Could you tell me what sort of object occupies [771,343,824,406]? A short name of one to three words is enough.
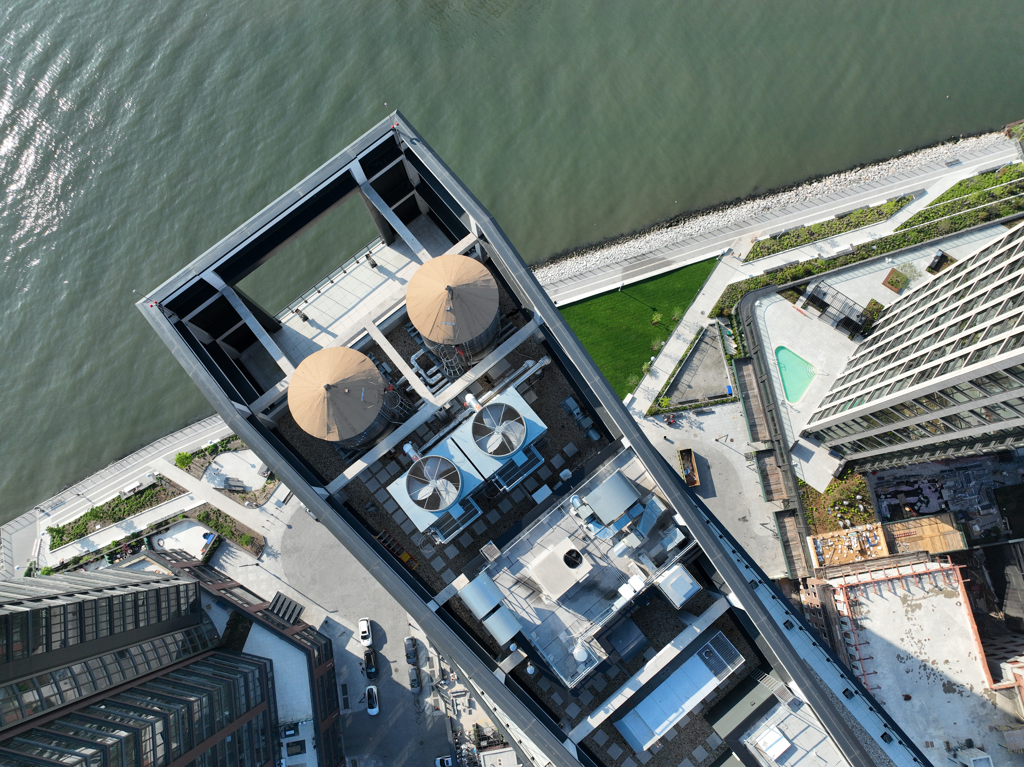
swimming pool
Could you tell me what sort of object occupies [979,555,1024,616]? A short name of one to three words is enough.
shed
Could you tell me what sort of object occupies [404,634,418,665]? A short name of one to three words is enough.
car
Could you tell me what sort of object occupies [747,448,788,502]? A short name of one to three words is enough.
shed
